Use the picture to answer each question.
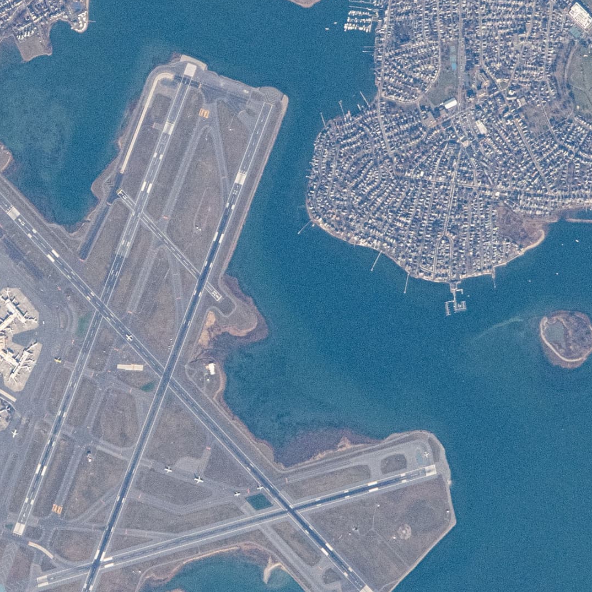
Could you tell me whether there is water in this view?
Yes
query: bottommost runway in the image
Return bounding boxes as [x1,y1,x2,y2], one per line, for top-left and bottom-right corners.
[35,460,438,592]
